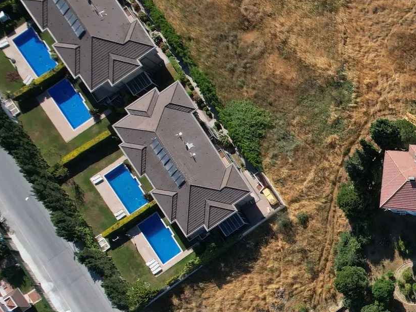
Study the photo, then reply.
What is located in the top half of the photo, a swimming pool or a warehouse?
swimming pool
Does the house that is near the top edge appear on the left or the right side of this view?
left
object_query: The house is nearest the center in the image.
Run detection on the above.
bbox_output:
[110,80,261,241]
